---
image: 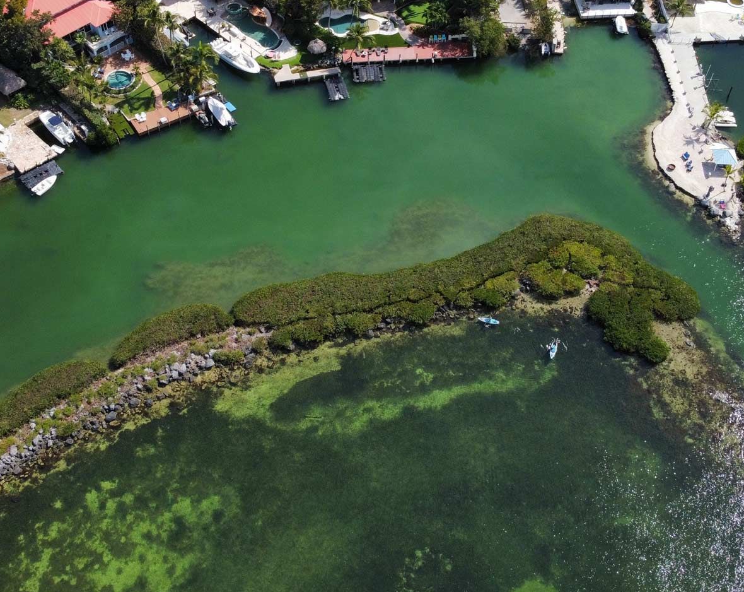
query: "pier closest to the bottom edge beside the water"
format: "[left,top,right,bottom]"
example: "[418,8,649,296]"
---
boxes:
[21,160,65,187]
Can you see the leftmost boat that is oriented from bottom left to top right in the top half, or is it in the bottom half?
top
